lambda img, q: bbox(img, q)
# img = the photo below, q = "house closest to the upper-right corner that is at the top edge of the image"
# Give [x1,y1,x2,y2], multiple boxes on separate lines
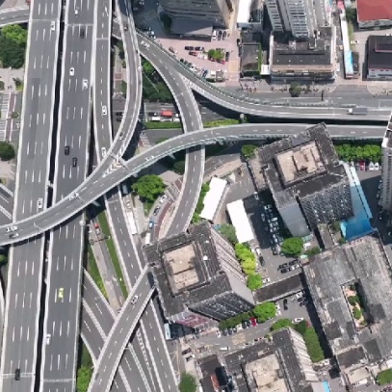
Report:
[355,0,392,28]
